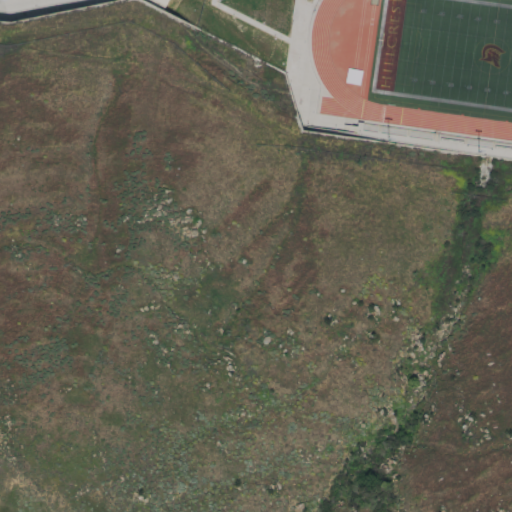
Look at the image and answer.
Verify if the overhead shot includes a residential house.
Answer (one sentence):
No, there's no residential house here.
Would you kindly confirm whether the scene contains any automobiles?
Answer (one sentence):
No, I can't see a single automobile in this photo.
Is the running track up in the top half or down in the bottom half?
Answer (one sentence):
It is in the top half that the running track appears.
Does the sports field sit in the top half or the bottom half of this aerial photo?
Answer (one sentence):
The top half of the photo is where the sports field is.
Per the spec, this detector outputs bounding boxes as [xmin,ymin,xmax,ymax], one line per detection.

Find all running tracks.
[312,0,512,142]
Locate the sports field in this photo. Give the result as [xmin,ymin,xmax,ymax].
[368,0,512,122]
